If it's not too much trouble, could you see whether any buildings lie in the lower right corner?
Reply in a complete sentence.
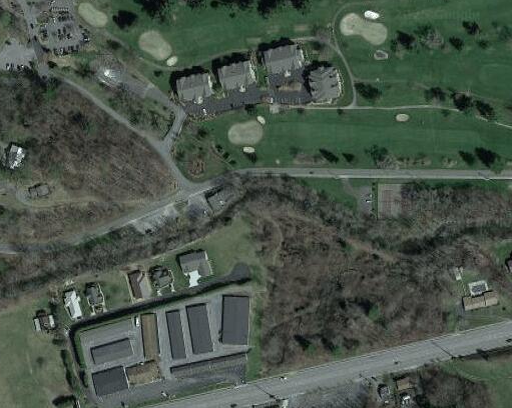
Yes, I can see a building in the lower right corner.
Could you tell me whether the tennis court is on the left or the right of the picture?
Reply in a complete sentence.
The tennis court appears in the right half of the scene.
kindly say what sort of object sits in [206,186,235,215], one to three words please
building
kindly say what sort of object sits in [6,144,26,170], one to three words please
house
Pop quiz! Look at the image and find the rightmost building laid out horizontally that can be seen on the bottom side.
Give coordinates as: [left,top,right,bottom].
[461,293,496,311]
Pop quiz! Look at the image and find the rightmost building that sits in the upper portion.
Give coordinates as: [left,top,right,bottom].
[309,67,343,102]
